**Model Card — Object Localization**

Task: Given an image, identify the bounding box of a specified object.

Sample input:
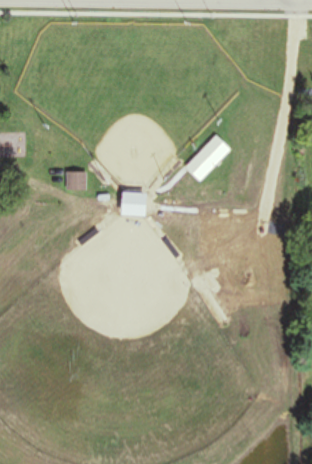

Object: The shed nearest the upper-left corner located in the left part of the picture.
[66,172,87,191]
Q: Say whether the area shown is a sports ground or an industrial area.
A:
sports ground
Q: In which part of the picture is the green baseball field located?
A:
top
